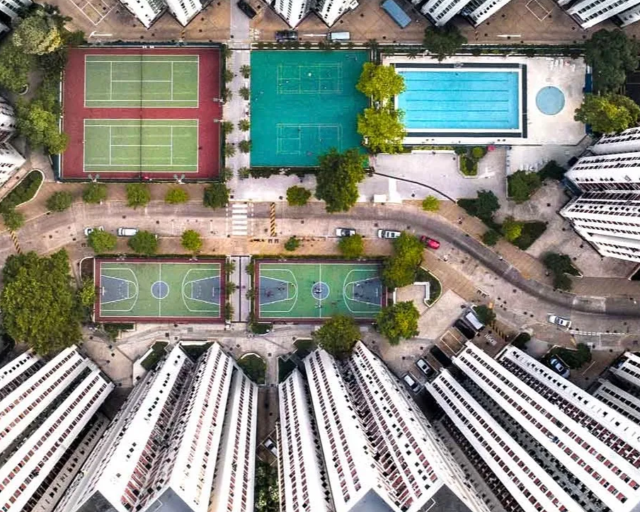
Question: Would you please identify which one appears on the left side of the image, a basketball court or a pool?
basketball court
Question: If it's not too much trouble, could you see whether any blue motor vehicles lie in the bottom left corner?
No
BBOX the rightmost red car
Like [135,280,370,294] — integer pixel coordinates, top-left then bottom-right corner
[423,236,440,249]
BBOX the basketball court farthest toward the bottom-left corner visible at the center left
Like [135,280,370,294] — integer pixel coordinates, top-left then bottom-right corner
[93,258,227,322]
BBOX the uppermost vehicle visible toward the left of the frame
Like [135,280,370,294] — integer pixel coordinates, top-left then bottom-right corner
[236,0,257,18]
